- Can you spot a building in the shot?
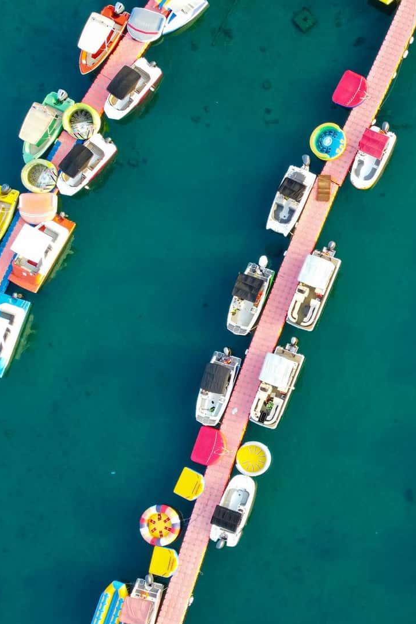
No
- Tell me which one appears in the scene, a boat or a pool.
boat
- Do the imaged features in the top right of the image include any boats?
Yes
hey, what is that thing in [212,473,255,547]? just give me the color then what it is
white boat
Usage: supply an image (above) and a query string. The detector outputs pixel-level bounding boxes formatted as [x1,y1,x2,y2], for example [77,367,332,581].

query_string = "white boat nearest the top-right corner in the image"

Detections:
[354,124,395,191]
